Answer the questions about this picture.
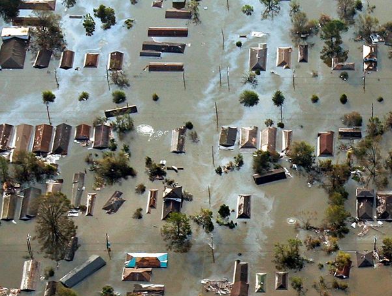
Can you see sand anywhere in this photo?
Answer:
No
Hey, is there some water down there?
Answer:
Yes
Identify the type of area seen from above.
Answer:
residential area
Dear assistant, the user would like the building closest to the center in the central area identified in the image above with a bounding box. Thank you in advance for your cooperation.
[172,126,187,153]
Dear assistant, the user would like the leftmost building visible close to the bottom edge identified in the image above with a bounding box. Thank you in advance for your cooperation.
[20,259,39,291]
